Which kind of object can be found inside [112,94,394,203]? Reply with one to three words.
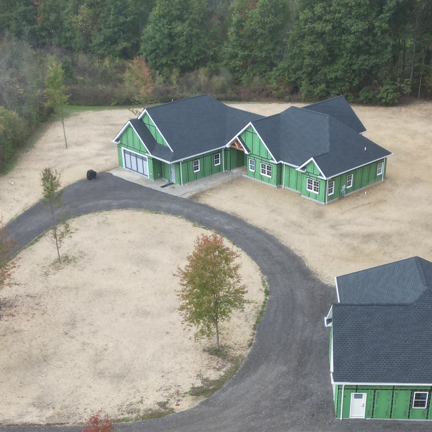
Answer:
house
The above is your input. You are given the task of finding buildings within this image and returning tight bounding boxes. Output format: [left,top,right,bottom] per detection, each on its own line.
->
[327,256,432,421]
[112,94,394,203]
